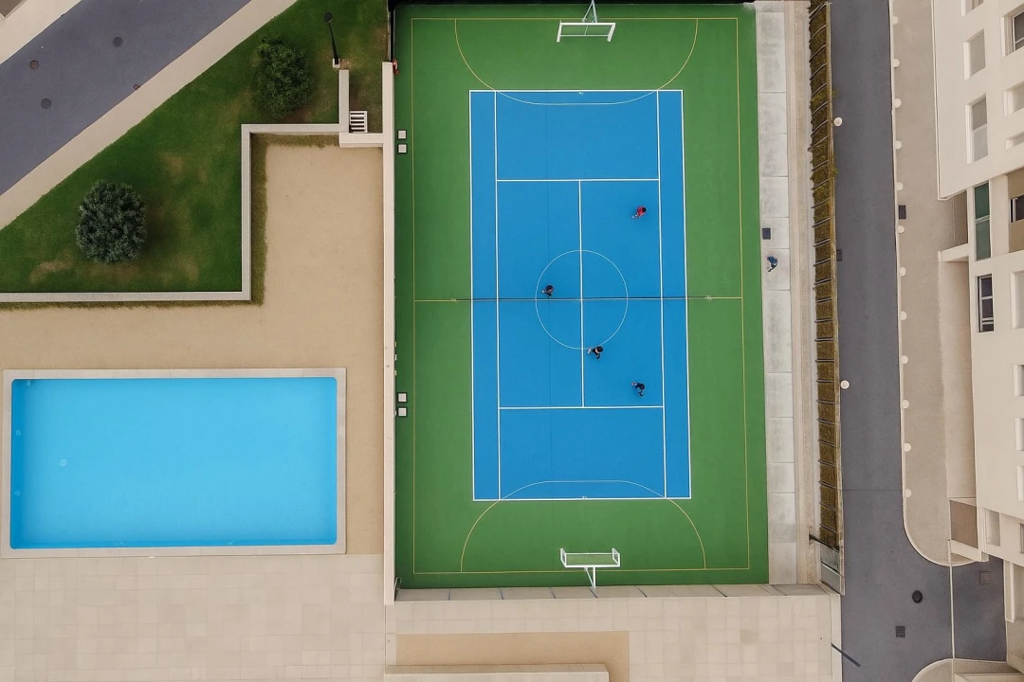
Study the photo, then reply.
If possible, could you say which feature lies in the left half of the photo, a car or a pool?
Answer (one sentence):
Looking in the left half of the photo, you will find a pool.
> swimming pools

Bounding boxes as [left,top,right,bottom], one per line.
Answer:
[1,368,346,557]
